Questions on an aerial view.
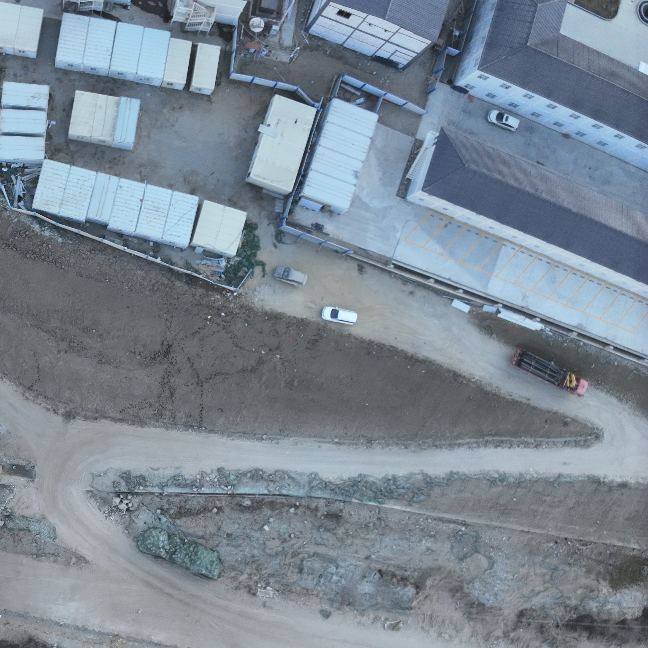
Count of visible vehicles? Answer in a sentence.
The count of vehicles comes to 4.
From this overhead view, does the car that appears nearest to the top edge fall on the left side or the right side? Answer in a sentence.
You can find the car that appears nearest to the top edge on the right side of the picture.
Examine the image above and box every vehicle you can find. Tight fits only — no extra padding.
[320,305,358,326]
[271,266,308,287]
[509,347,594,398]
[484,110,521,133]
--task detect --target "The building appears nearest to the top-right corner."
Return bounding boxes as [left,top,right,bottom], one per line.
[458,0,648,170]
